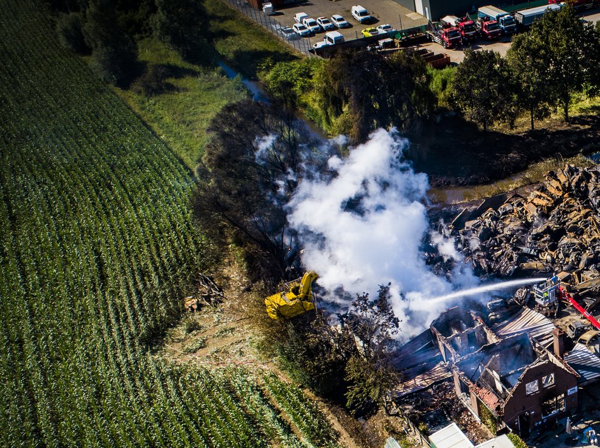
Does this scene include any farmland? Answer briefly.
Yes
